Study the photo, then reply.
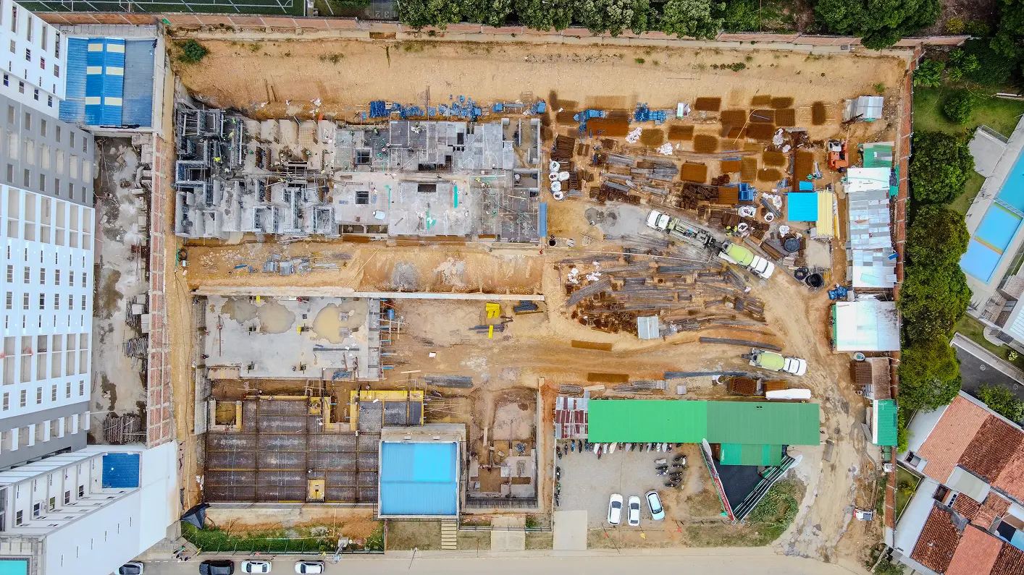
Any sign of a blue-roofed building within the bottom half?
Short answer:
Yes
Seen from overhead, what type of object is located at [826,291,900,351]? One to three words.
shed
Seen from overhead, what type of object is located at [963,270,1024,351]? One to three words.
building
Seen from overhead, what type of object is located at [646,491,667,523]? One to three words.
car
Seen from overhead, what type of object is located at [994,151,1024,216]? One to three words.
swimming pool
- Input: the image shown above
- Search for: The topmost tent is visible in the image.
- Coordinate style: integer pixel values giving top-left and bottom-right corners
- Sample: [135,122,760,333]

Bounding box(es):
[182,504,210,528]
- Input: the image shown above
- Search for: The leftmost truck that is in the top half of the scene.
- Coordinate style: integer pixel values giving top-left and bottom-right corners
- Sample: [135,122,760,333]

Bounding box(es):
[649,205,720,248]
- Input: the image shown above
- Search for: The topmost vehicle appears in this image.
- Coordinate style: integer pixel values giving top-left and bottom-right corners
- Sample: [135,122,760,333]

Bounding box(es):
[829,106,870,170]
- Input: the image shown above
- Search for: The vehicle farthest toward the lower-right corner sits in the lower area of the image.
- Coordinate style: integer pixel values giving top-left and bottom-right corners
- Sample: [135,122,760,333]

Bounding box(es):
[854,508,879,525]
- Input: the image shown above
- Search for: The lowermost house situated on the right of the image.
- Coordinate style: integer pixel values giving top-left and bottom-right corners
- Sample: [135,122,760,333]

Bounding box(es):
[892,477,1024,575]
